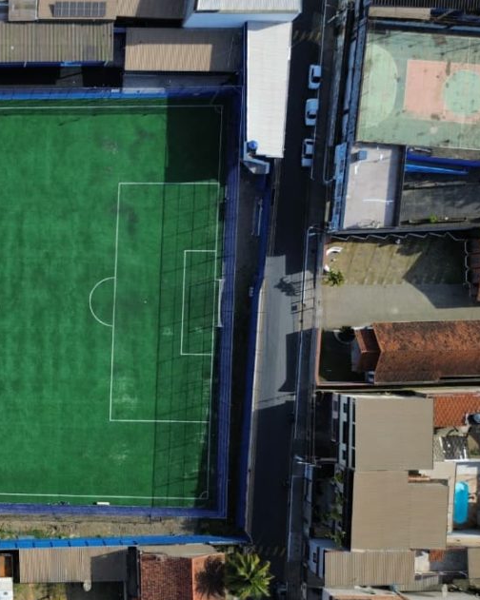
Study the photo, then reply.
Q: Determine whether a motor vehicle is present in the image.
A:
Yes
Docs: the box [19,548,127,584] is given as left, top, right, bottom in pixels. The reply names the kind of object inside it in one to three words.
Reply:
shed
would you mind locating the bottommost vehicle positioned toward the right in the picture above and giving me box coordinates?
[300,137,317,166]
